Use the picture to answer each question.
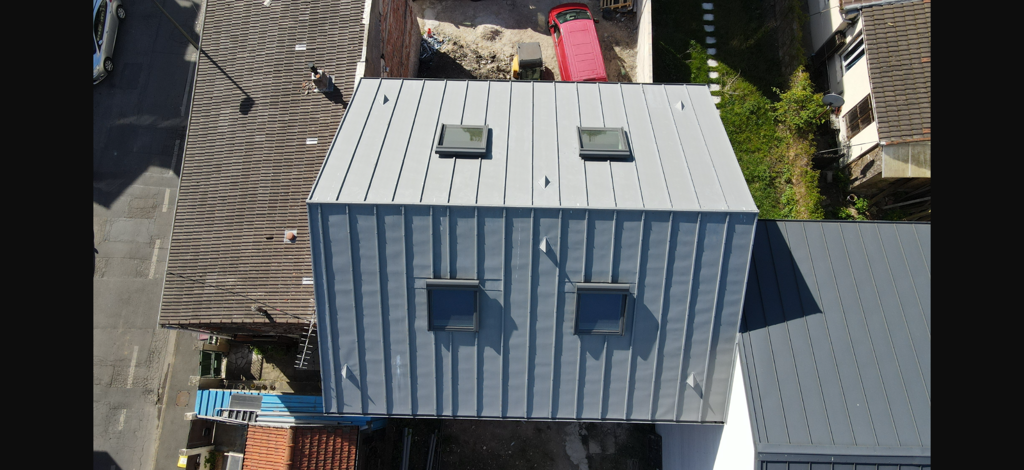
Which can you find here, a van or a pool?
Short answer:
van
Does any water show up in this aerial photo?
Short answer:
No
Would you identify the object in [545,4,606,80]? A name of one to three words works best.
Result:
van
